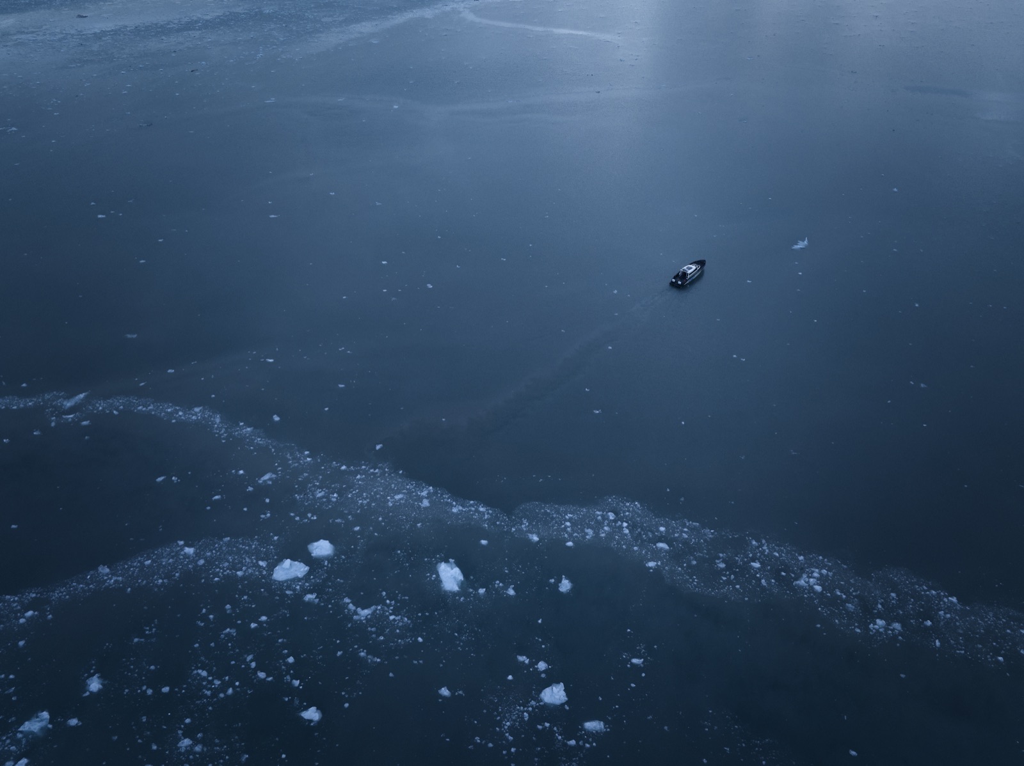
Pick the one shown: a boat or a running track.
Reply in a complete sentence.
It is a boat that can be seen here.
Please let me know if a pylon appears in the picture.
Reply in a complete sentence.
No, I find no pylon anywhere in the image.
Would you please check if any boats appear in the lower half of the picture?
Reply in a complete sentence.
No, I can find no boat in the lower half of the picture.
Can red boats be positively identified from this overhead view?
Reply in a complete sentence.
No, no red boat is visible in the scene.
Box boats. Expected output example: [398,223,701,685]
[670,260,707,289]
